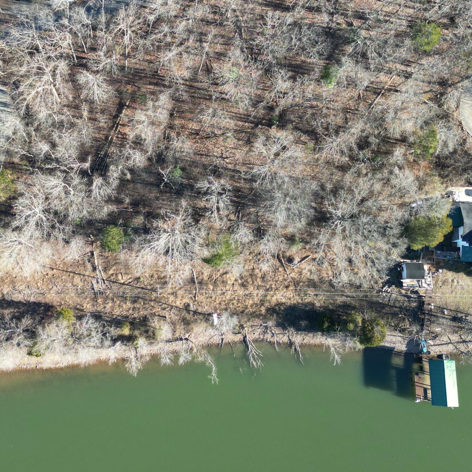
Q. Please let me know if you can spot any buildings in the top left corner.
No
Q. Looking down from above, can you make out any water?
Yes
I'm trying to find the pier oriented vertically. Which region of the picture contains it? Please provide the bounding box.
[411,352,432,402]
